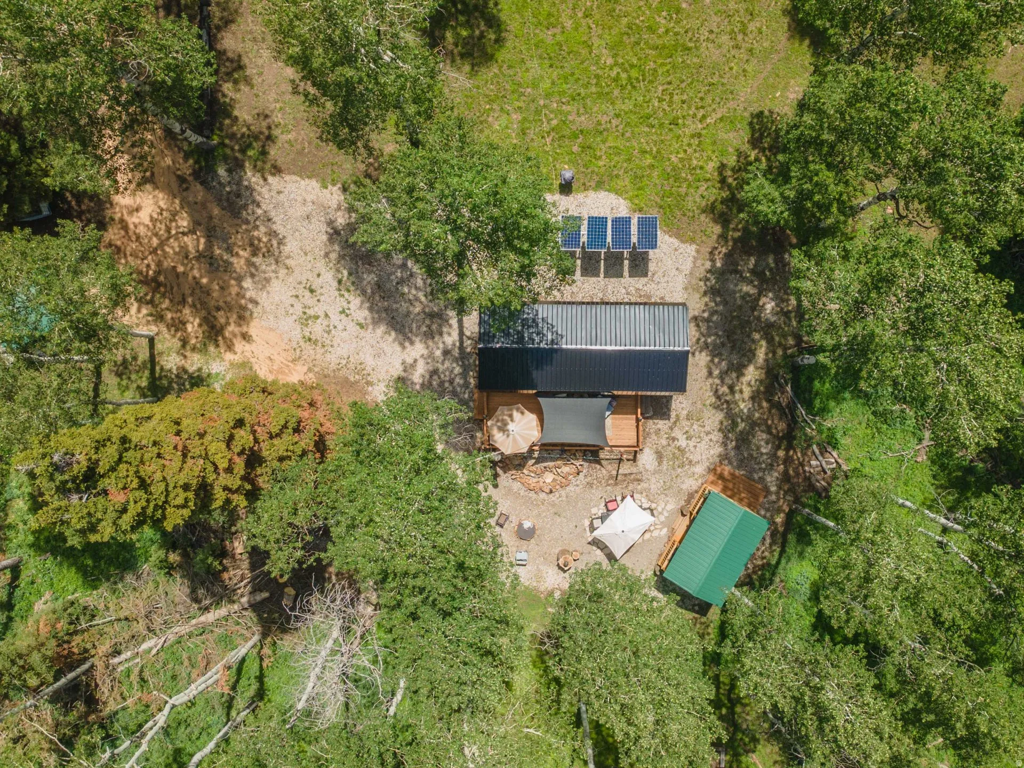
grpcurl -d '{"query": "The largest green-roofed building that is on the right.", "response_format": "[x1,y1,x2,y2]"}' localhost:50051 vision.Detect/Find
[663,490,770,607]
